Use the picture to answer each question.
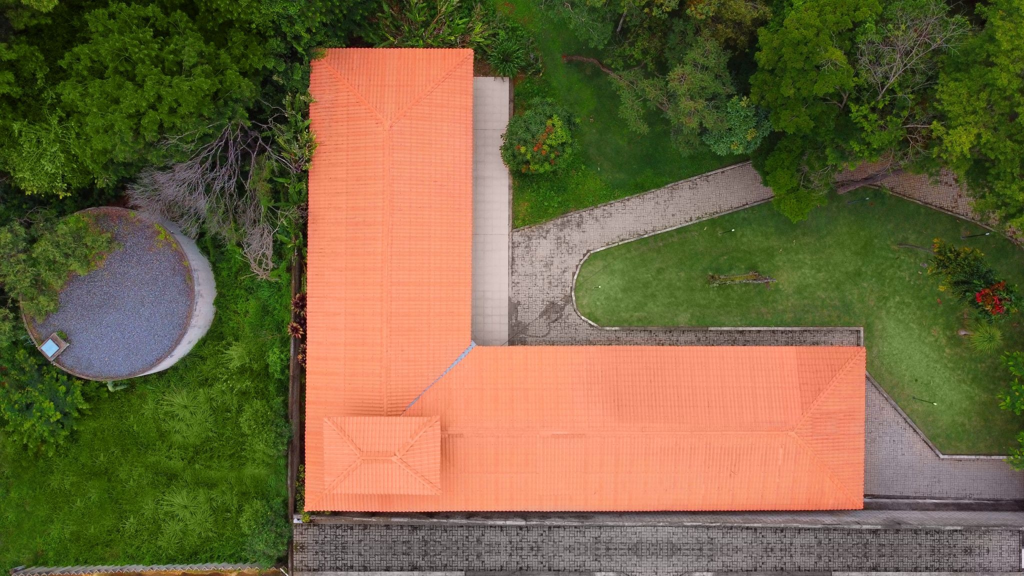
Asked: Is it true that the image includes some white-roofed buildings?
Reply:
No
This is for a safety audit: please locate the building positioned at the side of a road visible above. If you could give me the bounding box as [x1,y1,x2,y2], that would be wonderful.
[304,47,867,512]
